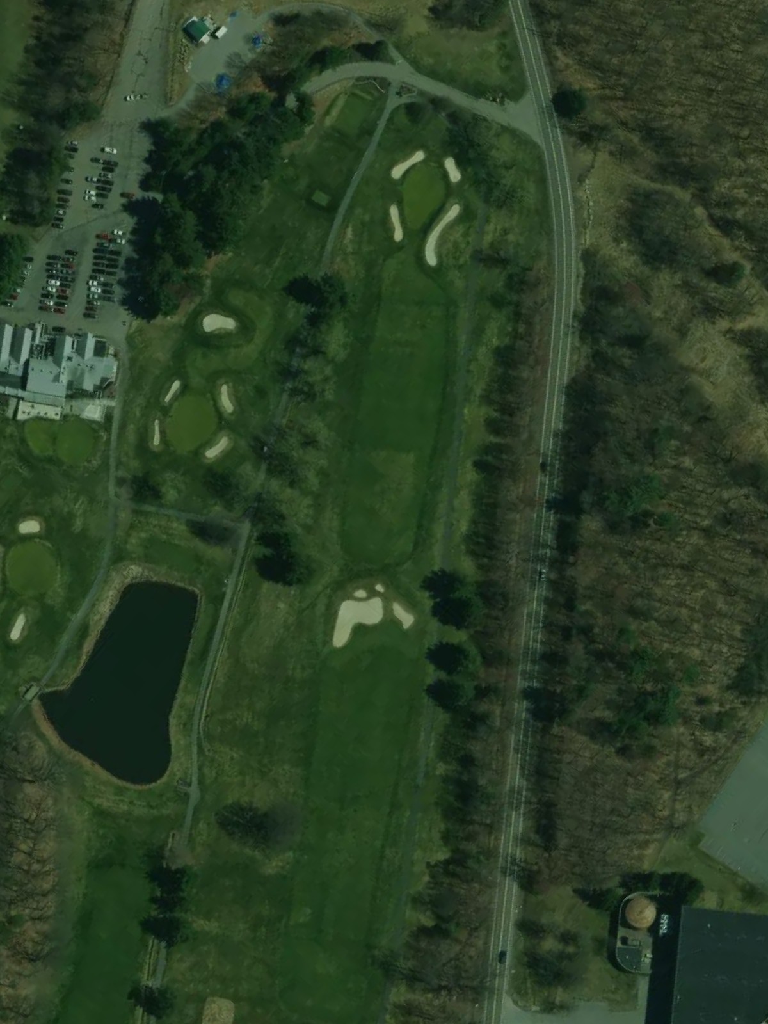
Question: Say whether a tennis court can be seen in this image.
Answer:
No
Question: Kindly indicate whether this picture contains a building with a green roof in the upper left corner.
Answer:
Yes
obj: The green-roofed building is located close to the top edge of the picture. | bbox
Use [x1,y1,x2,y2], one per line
[183,16,214,43]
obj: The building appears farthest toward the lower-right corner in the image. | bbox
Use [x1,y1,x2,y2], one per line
[666,904,768,1024]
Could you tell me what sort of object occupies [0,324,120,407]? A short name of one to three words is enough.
building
